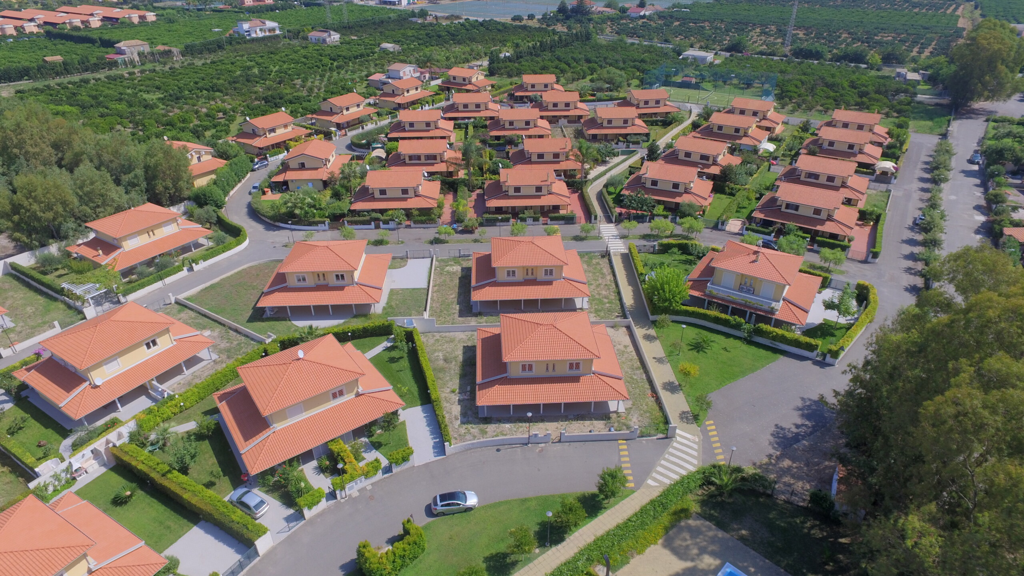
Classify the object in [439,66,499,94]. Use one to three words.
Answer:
house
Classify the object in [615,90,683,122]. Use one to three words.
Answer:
house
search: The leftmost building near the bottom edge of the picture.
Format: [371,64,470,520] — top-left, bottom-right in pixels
[0,484,173,576]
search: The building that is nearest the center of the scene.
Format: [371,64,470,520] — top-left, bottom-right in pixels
[471,228,591,314]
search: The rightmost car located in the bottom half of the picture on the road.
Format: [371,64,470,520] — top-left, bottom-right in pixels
[430,488,472,513]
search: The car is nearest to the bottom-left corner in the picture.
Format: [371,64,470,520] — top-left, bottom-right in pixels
[228,487,266,518]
